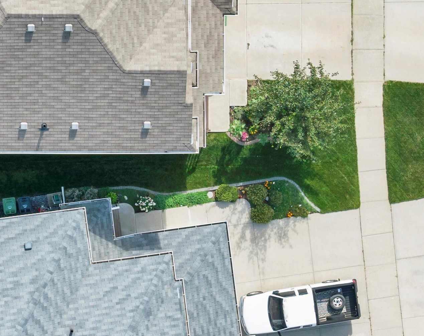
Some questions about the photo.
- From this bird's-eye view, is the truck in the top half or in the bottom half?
bottom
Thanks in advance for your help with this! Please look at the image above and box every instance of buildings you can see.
[0,189,257,336]
[0,0,239,155]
